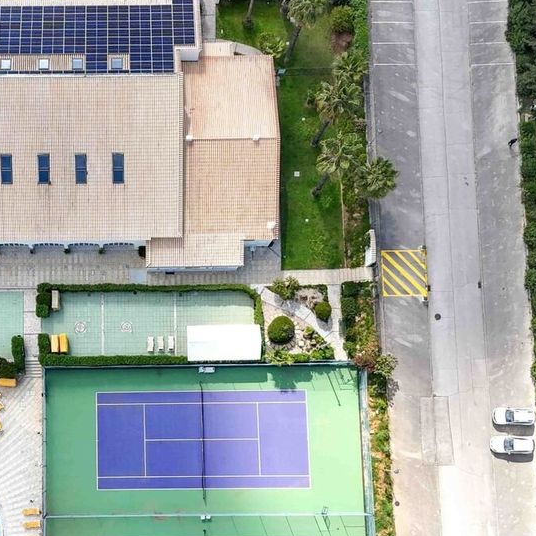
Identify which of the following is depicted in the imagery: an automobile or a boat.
automobile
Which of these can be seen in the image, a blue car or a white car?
white car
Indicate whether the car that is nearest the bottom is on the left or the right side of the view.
right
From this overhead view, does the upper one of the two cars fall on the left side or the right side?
right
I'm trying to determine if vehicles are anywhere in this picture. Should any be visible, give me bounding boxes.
[490,436,536,457]
[492,408,536,428]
